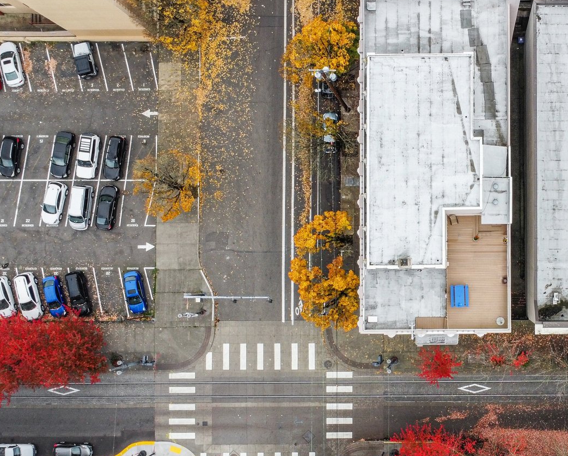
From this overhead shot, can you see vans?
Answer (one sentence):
Yes, there's a van down there.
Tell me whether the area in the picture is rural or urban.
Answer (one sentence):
The area shown here is urban.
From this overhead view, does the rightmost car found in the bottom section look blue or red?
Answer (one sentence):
The rightmost car found in the bottom section is blue.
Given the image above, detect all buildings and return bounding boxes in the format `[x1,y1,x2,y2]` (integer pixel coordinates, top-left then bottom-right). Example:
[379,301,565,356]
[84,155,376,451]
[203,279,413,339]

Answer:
[0,0,152,40]
[353,0,521,346]
[525,3,568,334]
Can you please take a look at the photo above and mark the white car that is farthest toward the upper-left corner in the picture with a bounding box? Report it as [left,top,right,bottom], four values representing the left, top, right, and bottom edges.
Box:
[0,43,28,89]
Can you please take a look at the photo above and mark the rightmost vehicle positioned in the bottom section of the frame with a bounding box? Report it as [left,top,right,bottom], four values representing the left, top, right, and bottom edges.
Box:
[123,270,149,315]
